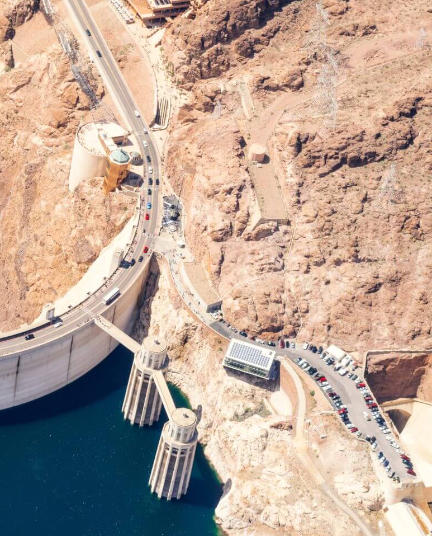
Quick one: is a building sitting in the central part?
Yes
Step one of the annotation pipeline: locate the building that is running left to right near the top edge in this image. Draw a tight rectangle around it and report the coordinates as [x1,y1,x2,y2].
[128,0,191,26]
